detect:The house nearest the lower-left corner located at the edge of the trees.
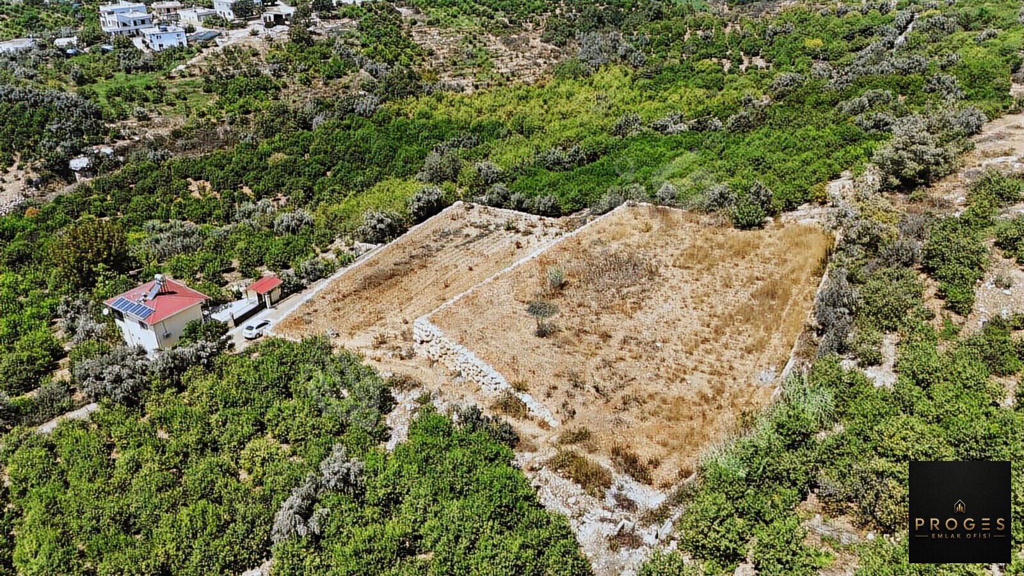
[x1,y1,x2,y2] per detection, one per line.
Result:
[105,278,207,369]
